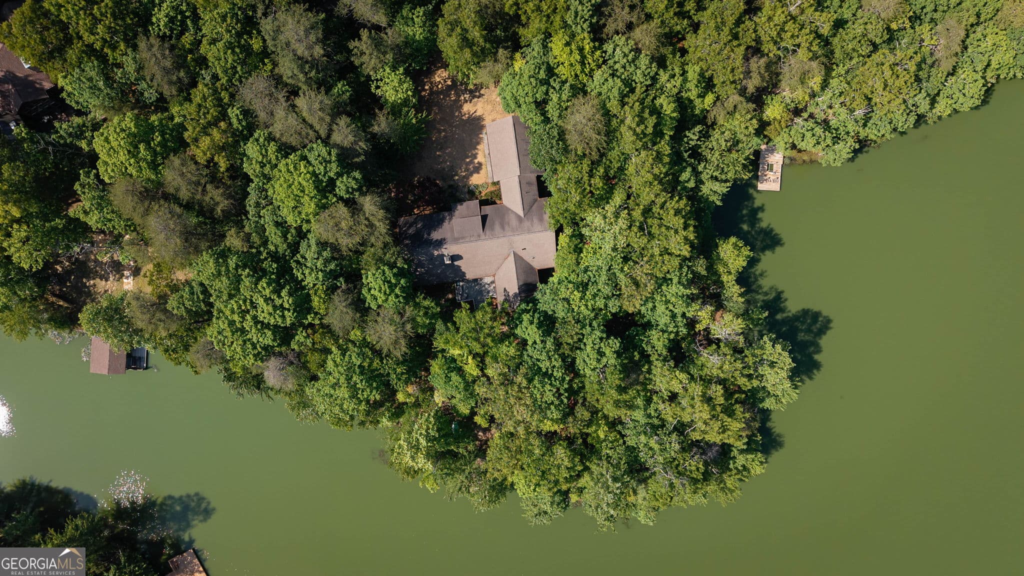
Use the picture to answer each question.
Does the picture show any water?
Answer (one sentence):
Yes, water can be seen from above here.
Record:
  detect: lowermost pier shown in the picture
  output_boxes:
[126,340,149,371]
